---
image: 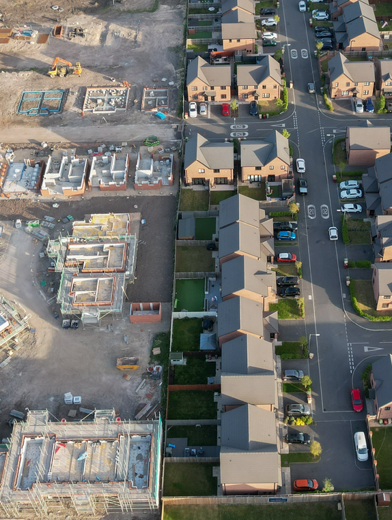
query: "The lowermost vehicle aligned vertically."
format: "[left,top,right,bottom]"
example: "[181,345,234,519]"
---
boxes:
[353,428,370,460]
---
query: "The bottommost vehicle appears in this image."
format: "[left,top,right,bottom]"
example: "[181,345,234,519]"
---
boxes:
[293,477,317,489]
